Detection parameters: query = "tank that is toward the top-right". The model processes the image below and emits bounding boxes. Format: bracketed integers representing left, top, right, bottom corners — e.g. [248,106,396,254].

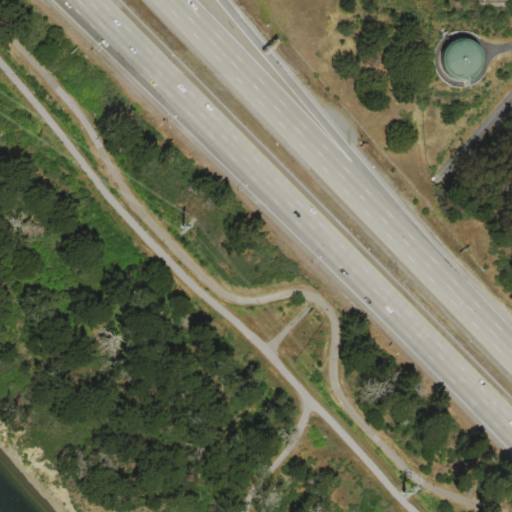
[442,39,484,80]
